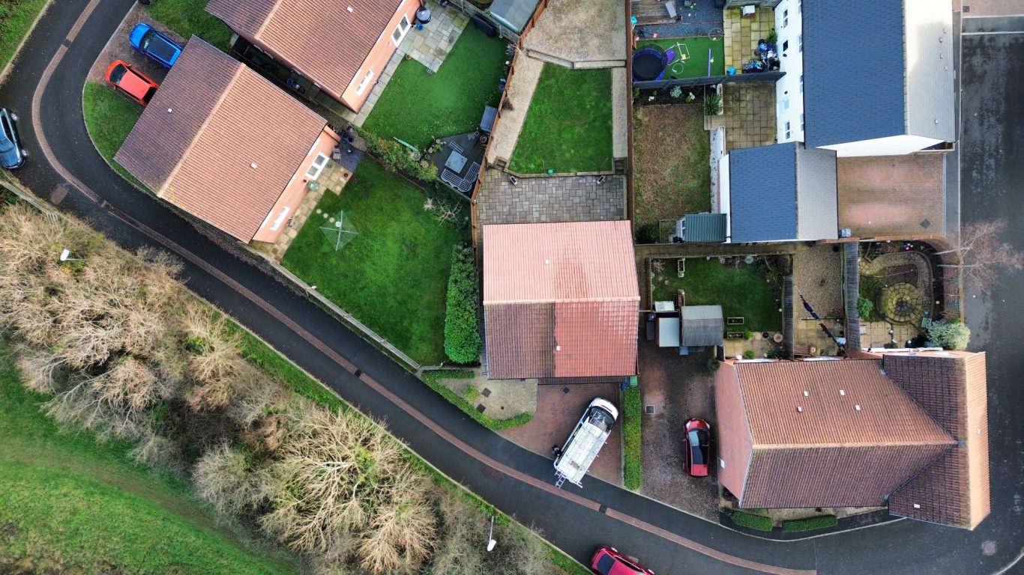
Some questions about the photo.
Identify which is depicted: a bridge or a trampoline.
trampoline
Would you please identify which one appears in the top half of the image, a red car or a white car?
red car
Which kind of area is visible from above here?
residential area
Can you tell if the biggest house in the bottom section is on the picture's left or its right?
right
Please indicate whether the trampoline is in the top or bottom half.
top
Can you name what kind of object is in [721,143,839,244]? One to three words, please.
building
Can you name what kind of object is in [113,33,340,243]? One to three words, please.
house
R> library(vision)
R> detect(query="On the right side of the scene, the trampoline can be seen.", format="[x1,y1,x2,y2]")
[631,39,670,81]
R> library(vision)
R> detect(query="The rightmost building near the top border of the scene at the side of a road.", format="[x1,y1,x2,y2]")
[776,0,956,158]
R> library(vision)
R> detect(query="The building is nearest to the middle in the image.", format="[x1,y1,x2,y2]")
[483,219,643,388]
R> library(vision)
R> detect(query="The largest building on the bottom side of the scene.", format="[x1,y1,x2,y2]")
[715,347,991,532]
